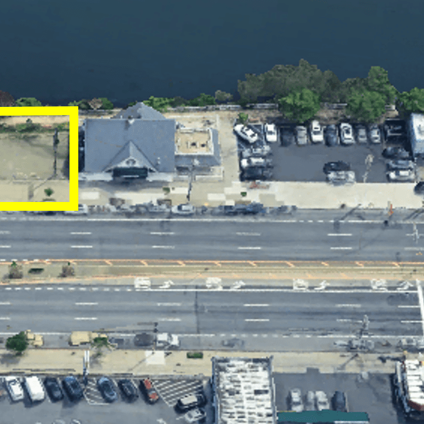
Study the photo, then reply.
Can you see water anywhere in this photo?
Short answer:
Yes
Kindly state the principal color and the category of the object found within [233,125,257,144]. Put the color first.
white car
